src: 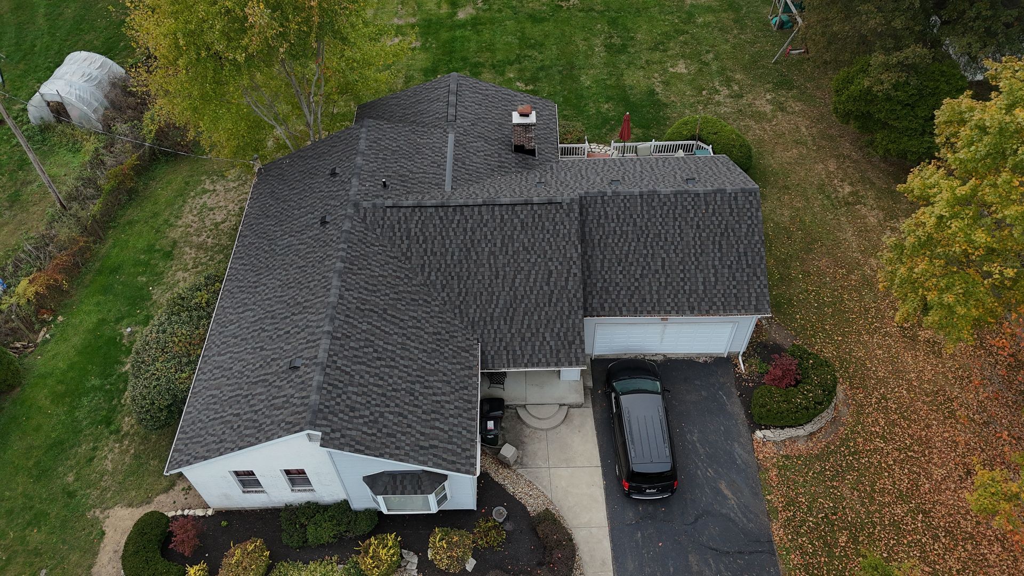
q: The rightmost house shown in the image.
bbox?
[162,73,772,516]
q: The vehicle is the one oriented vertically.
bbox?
[604,363,680,502]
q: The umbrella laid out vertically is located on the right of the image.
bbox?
[617,113,632,150]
